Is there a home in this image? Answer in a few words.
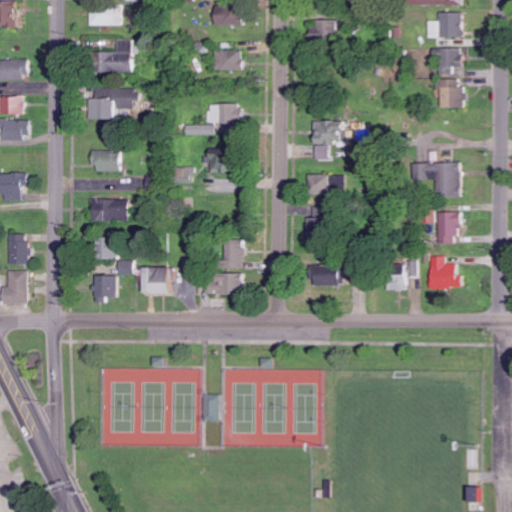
Yes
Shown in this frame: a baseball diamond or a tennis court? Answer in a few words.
tennis court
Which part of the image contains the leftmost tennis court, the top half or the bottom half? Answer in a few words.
bottom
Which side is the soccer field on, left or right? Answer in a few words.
right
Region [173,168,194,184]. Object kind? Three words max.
building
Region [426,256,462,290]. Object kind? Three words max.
house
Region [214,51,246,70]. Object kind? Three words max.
house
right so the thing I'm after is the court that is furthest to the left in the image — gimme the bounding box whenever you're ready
[103,368,139,446]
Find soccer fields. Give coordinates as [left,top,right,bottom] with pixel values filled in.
[334,373,479,512]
